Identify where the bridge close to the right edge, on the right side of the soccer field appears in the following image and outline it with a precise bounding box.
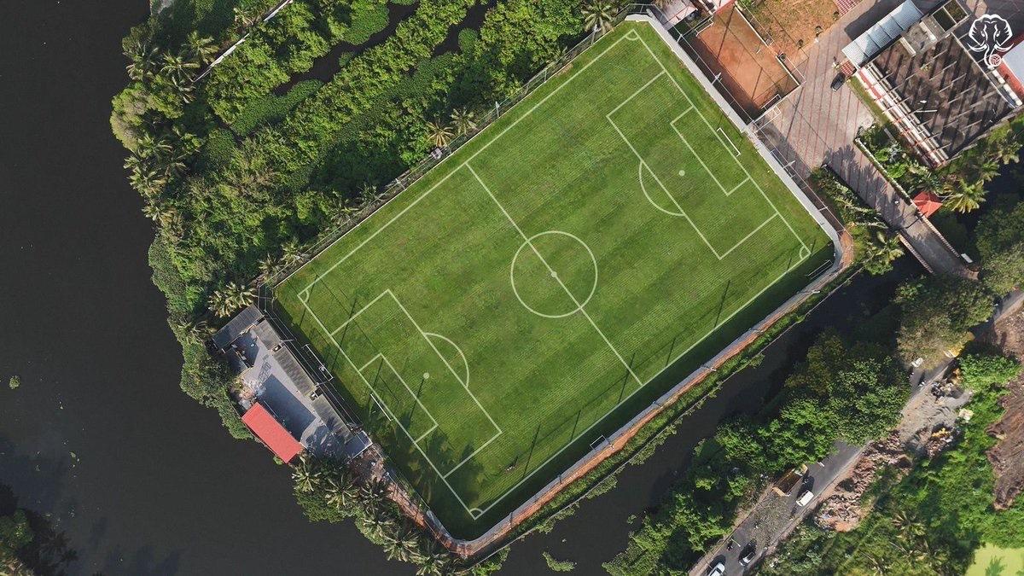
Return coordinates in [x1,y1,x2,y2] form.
[898,211,996,300]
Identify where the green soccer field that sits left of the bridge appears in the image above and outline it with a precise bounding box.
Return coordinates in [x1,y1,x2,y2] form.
[271,16,840,541]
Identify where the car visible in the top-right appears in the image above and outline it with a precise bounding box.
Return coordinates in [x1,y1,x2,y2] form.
[832,71,849,90]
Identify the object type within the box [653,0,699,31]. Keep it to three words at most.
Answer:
house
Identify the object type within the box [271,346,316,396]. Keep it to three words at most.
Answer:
building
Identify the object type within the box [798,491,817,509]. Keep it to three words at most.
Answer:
vehicle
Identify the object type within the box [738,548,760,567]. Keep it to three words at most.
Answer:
vehicle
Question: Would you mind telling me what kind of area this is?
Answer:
sports ground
